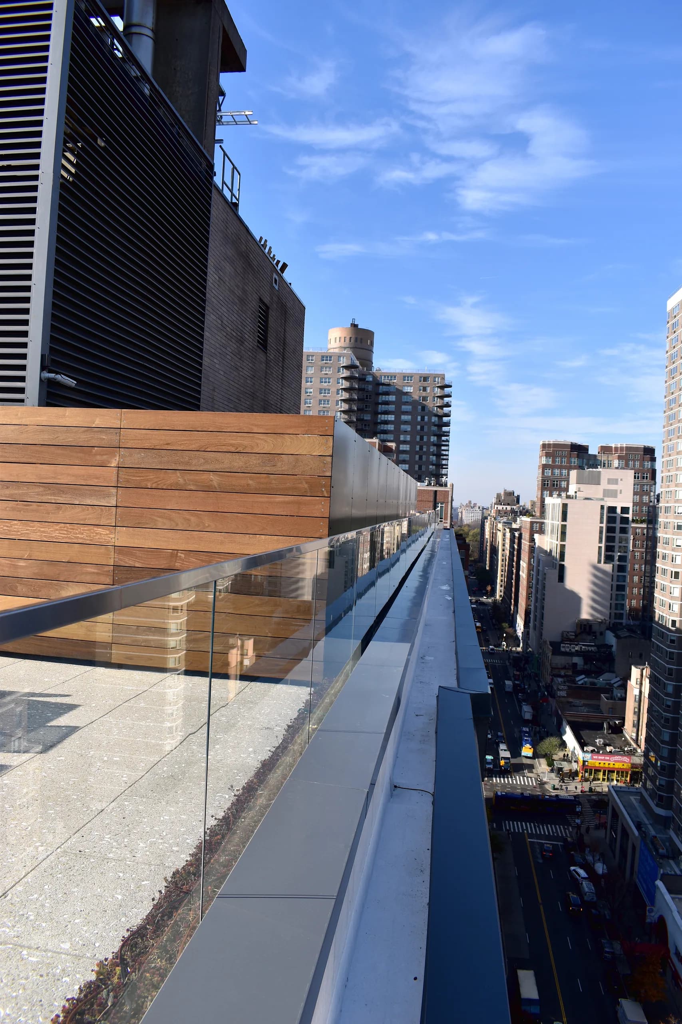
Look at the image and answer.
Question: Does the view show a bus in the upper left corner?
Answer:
No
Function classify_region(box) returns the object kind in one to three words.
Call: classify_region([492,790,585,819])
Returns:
bus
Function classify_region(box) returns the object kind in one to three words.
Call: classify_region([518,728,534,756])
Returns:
vehicle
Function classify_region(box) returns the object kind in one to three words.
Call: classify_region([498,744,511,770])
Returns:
vehicle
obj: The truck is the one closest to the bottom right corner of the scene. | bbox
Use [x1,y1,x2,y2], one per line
[618,995,654,1024]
